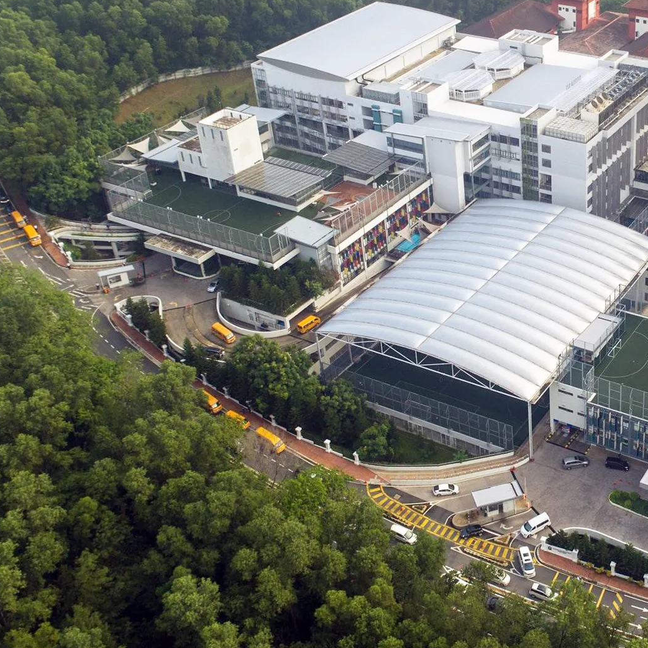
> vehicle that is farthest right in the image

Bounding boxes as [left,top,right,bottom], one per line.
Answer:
[605,453,632,471]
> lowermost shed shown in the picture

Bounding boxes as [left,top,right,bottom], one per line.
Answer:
[472,480,523,521]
